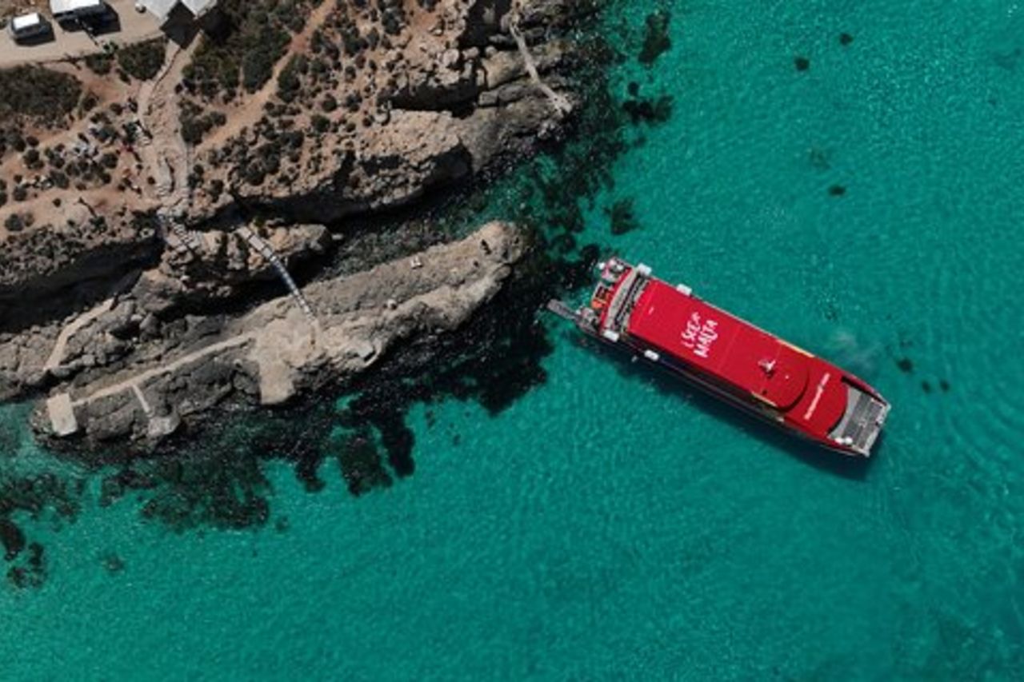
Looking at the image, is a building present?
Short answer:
No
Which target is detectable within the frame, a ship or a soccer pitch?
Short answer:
ship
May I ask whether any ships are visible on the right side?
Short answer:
Yes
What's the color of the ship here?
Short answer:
red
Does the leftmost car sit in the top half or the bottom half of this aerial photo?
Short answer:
top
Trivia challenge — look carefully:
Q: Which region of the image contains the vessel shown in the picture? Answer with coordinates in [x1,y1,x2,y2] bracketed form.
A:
[544,258,891,456]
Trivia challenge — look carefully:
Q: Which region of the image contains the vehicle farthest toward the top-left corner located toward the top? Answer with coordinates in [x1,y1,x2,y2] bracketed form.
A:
[13,14,55,40]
